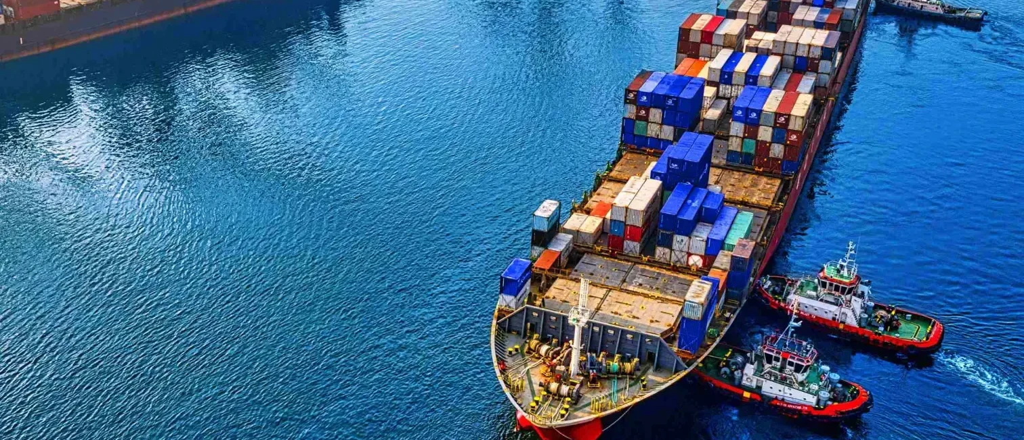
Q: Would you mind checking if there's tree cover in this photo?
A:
No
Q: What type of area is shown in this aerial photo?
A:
port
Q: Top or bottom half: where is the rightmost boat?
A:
top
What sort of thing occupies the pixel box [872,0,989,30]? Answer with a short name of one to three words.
boat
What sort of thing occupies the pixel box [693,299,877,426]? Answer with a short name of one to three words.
boat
